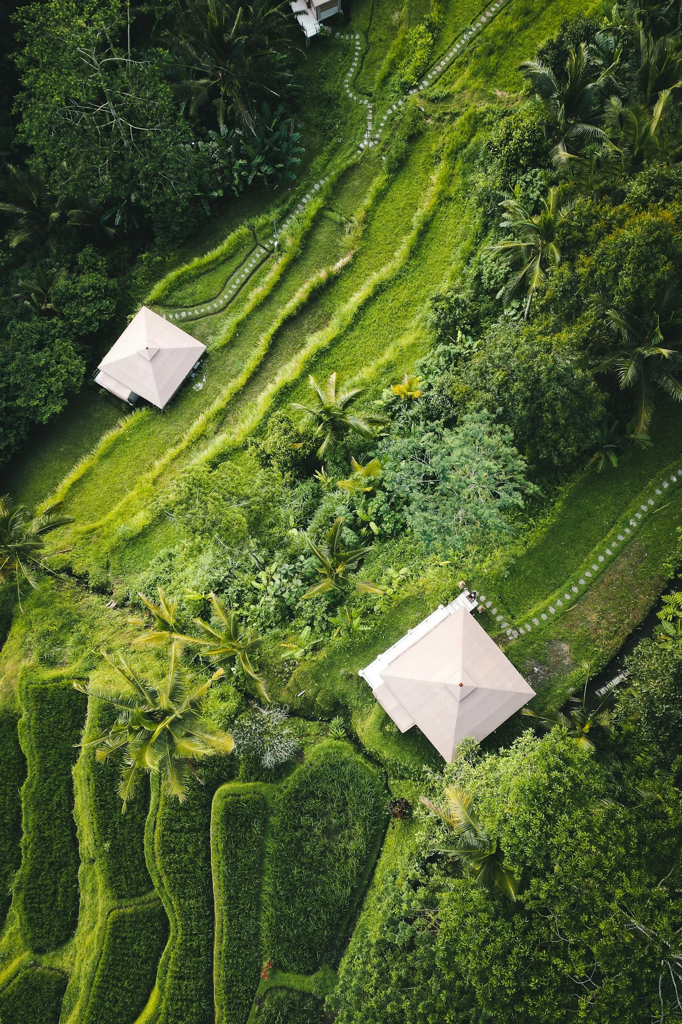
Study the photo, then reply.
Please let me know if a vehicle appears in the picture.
No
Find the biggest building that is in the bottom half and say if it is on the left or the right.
right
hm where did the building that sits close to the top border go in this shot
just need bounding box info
[289,0,342,48]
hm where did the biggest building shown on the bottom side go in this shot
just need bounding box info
[363,585,535,765]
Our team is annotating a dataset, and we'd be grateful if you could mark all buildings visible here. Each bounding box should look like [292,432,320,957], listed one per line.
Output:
[363,585,535,765]
[92,309,208,411]
[289,0,342,48]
